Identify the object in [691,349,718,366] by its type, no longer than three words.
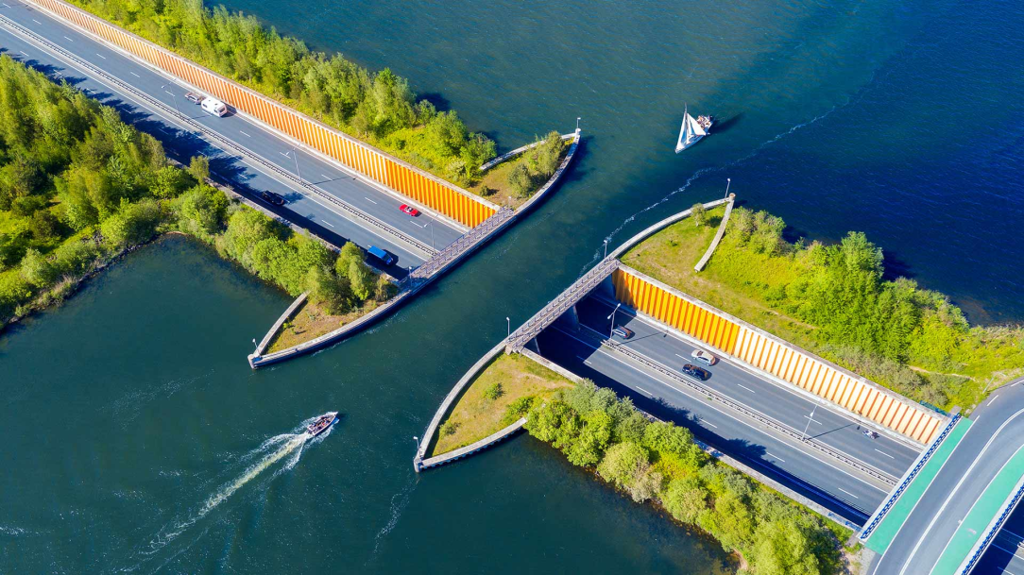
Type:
car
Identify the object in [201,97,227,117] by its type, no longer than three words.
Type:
camper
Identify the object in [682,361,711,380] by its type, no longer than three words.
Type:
car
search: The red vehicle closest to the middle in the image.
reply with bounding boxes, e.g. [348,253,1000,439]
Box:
[399,204,419,217]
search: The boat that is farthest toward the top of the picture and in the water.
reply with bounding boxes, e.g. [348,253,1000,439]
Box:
[671,102,715,152]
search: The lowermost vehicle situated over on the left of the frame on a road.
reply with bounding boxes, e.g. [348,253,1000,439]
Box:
[365,240,396,266]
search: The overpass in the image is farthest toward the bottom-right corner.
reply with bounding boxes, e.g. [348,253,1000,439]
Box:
[849,378,1024,575]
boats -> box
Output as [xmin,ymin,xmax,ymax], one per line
[305,411,339,439]
[671,102,715,152]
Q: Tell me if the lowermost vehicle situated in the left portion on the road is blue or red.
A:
blue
